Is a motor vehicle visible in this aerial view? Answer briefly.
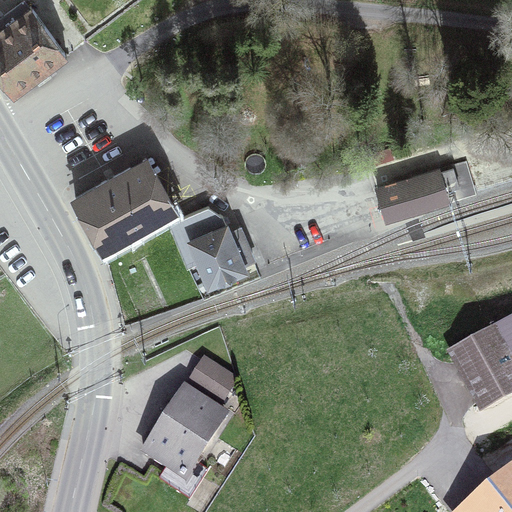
Yes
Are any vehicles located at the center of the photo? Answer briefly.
Yes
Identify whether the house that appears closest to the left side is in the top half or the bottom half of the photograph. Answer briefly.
top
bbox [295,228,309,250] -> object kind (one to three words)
car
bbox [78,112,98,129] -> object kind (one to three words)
car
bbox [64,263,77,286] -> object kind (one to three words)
vehicle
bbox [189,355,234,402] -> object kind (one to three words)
building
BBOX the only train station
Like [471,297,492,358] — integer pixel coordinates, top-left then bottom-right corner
[376,168,459,225]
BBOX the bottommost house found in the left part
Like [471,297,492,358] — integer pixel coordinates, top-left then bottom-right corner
[144,384,229,498]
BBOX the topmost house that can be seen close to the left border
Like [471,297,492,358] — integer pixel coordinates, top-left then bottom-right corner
[0,2,68,112]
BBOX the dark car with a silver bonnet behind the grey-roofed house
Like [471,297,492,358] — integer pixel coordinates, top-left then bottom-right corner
[210,196,229,213]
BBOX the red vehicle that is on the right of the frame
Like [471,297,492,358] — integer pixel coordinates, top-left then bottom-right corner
[309,224,324,245]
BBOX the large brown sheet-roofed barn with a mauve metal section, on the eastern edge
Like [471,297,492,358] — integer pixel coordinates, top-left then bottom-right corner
[446,314,512,412]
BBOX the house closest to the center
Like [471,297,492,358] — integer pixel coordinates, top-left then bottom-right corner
[172,209,254,293]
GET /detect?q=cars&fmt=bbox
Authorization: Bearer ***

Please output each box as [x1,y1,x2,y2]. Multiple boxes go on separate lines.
[295,228,309,250]
[64,263,77,286]
[8,256,28,273]
[62,134,84,152]
[68,149,91,166]
[55,126,78,144]
[74,296,86,318]
[16,268,38,288]
[0,244,21,261]
[92,135,114,152]
[78,112,98,129]
[309,224,324,245]
[0,230,11,244]
[45,117,65,134]
[102,146,124,162]
[210,196,229,213]
[86,121,109,139]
